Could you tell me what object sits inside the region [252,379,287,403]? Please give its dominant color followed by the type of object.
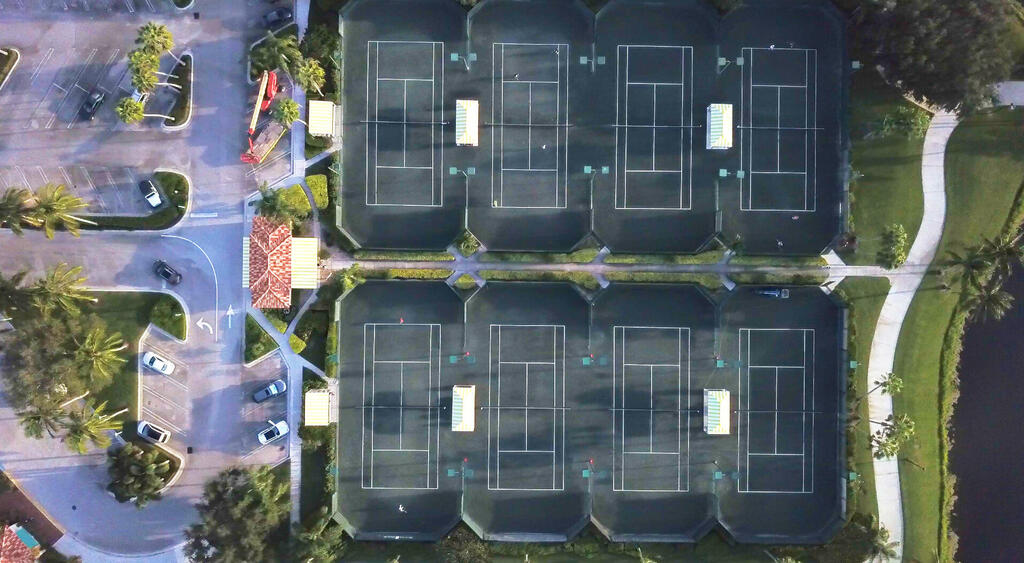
blue car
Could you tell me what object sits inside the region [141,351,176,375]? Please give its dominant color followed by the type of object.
white car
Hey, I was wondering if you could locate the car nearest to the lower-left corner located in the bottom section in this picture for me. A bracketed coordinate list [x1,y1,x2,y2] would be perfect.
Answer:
[138,421,172,445]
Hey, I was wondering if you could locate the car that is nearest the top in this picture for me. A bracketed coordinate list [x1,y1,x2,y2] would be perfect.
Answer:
[260,7,294,28]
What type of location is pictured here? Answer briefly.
sports ground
